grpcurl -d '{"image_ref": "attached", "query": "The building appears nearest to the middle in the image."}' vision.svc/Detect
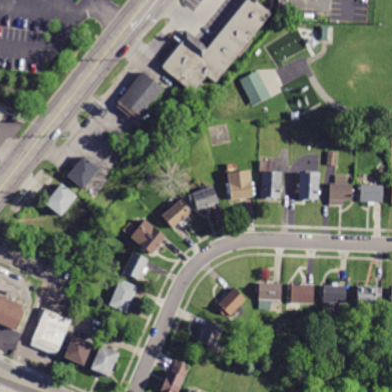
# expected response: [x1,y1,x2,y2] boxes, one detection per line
[192,186,218,210]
